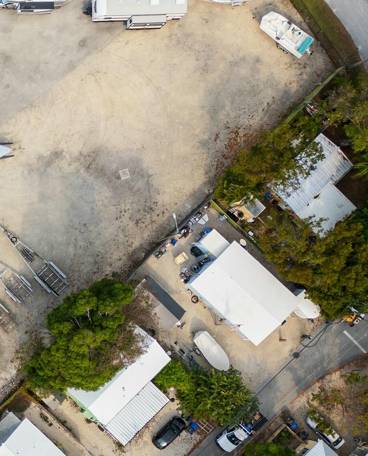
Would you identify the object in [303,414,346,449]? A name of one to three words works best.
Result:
car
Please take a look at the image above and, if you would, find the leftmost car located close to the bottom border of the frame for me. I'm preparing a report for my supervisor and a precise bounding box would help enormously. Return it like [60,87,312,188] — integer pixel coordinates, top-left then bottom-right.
[150,415,189,449]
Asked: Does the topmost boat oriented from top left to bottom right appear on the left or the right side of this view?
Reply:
right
